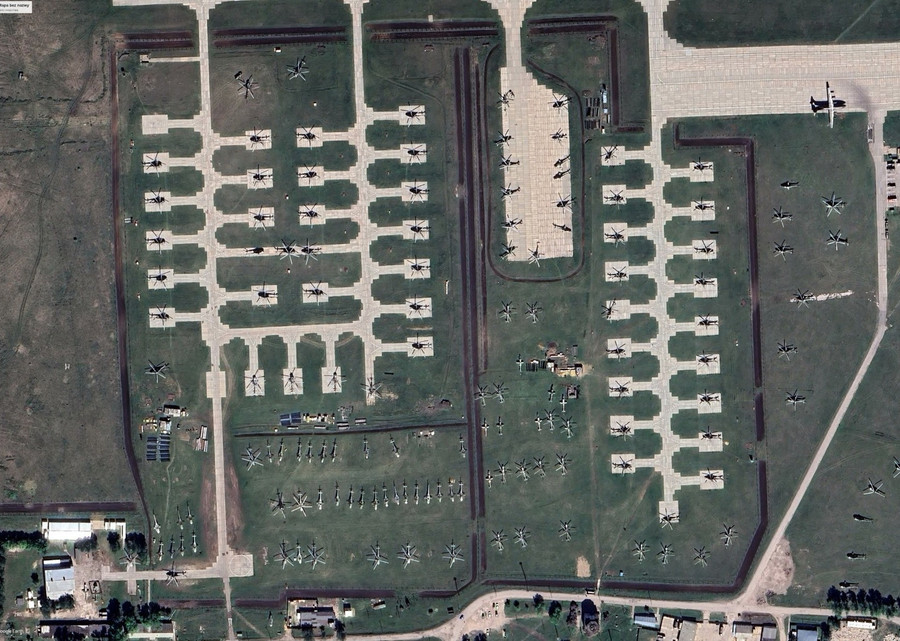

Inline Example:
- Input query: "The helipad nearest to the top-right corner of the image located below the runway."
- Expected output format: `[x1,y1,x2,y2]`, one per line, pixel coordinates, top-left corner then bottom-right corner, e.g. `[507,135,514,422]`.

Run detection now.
[690,162,714,181]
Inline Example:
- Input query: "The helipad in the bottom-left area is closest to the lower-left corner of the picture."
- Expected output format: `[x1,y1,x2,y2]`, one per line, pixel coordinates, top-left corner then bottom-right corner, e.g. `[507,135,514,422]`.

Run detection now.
[227,555,253,578]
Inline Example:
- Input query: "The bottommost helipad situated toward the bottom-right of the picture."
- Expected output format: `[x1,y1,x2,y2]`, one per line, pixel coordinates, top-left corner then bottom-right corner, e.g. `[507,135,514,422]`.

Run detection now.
[659,501,679,523]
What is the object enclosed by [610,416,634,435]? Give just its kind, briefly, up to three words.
helipad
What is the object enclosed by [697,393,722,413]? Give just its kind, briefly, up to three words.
helipad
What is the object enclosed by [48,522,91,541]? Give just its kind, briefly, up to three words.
building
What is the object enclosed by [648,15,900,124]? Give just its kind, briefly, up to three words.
runway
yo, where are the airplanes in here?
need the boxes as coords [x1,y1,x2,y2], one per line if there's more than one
[814,88,846,128]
